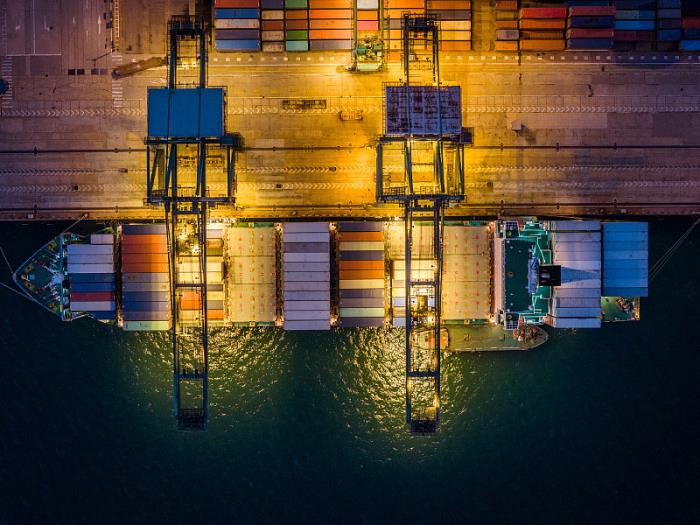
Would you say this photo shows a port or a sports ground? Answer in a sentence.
It's a port.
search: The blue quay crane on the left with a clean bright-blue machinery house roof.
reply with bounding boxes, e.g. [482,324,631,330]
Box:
[141,17,260,432]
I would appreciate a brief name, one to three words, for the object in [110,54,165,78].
truck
